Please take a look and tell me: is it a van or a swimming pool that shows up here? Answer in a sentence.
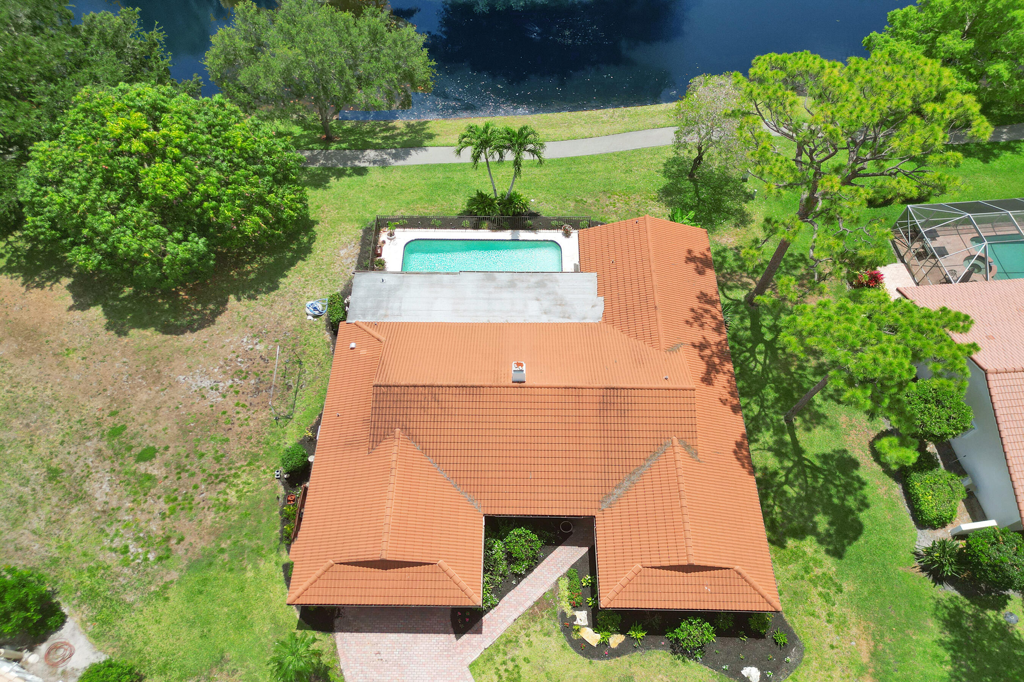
This aerial view contains a swimming pool.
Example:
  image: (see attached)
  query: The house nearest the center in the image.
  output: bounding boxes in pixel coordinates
[286,211,782,614]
